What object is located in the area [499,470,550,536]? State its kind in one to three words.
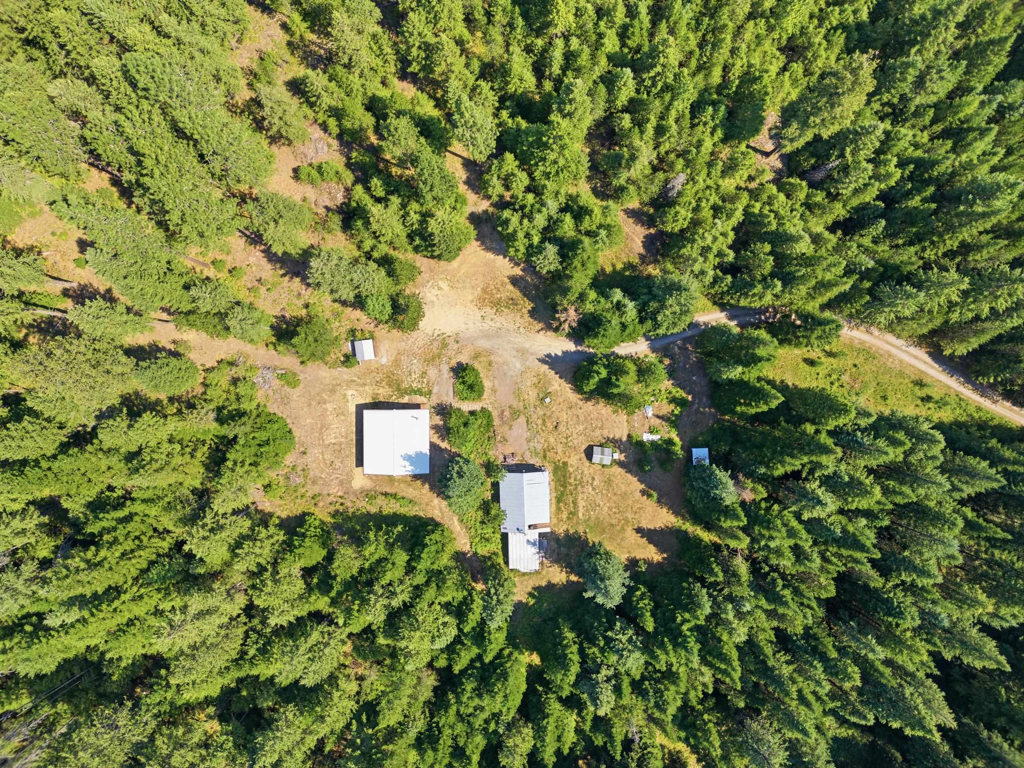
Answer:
house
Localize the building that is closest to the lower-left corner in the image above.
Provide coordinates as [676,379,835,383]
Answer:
[364,409,431,475]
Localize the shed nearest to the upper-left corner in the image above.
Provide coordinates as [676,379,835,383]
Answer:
[355,339,377,360]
